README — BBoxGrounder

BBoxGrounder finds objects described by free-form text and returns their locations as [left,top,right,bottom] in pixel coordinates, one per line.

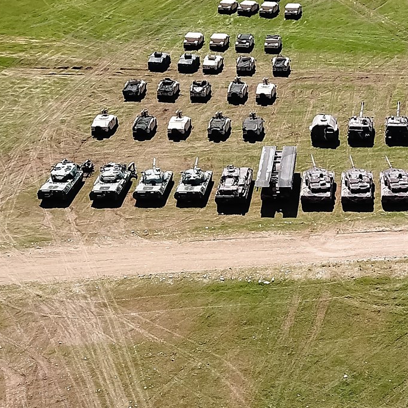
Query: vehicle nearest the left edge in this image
[40,155,97,199]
